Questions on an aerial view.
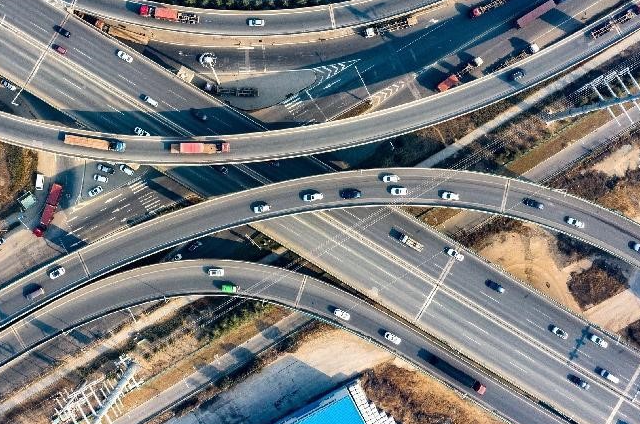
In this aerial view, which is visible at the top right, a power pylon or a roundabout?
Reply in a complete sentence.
It is a power pylon that can be seen at the top right.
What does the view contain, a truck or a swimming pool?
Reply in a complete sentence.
I can see a truck in this picture.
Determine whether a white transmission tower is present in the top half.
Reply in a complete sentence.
No, no white transmission tower can be made out in the top half.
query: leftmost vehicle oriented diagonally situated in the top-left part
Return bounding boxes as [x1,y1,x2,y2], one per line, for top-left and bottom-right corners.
[2,78,17,90]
